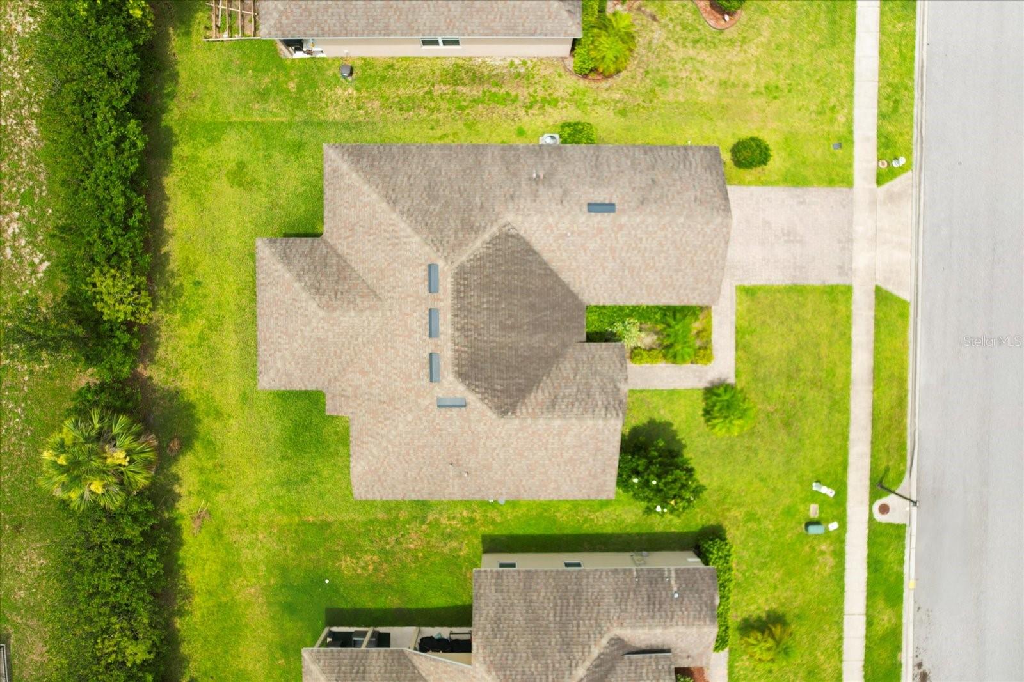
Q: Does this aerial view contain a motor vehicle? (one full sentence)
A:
No, there isn't any motor vehicle down there.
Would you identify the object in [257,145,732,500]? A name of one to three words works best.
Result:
house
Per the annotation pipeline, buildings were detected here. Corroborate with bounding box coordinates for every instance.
[302,551,722,682]
[257,145,732,500]
[259,0,581,58]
